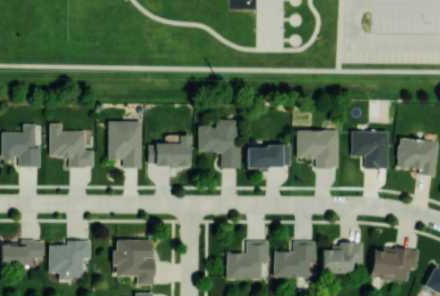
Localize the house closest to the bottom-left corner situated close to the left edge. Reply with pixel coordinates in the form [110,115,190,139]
[2,240,44,266]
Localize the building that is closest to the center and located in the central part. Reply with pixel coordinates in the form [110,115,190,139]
[198,120,242,168]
